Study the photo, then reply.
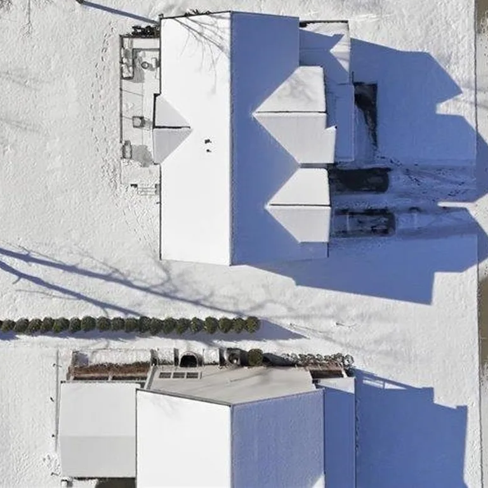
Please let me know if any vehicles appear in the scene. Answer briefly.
No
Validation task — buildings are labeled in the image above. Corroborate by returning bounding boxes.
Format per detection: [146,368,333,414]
[151,10,354,265]
[56,364,357,488]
